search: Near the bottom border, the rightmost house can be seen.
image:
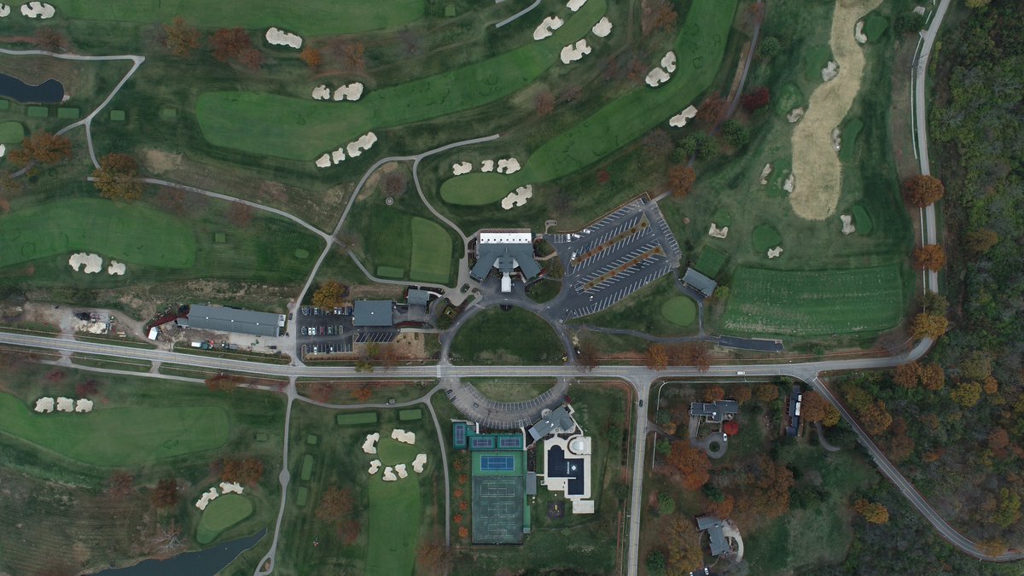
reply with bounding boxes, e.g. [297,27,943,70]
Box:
[695,514,730,556]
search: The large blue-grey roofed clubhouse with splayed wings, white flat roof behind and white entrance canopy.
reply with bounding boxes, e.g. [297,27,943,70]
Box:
[467,233,545,292]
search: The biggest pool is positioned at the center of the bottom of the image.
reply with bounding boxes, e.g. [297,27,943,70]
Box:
[544,434,594,514]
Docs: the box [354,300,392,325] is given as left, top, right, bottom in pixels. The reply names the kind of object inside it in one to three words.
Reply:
building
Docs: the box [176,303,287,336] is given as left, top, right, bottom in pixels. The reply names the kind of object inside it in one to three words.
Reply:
shed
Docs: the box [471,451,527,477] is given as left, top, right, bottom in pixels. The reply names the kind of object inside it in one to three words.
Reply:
tennis court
